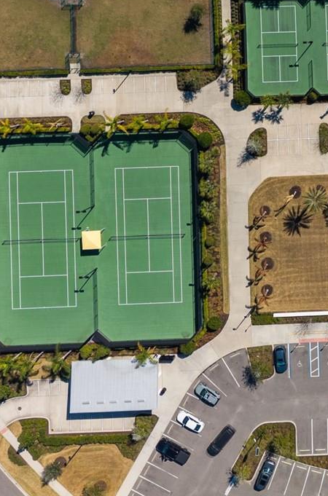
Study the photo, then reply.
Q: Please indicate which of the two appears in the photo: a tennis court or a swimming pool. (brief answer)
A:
tennis court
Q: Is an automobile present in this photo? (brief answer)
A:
Yes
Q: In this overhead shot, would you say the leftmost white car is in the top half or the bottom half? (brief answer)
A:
bottom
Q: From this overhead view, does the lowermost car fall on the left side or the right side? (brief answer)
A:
right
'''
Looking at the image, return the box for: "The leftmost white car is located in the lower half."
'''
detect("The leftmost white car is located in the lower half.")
[177,411,205,433]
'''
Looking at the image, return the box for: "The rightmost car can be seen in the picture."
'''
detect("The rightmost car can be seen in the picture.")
[273,345,287,374]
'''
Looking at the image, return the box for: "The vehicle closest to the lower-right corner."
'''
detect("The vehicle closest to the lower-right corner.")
[254,460,276,490]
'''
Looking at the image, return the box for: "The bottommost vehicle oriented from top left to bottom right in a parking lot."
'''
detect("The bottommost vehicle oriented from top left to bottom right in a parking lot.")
[156,438,190,465]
